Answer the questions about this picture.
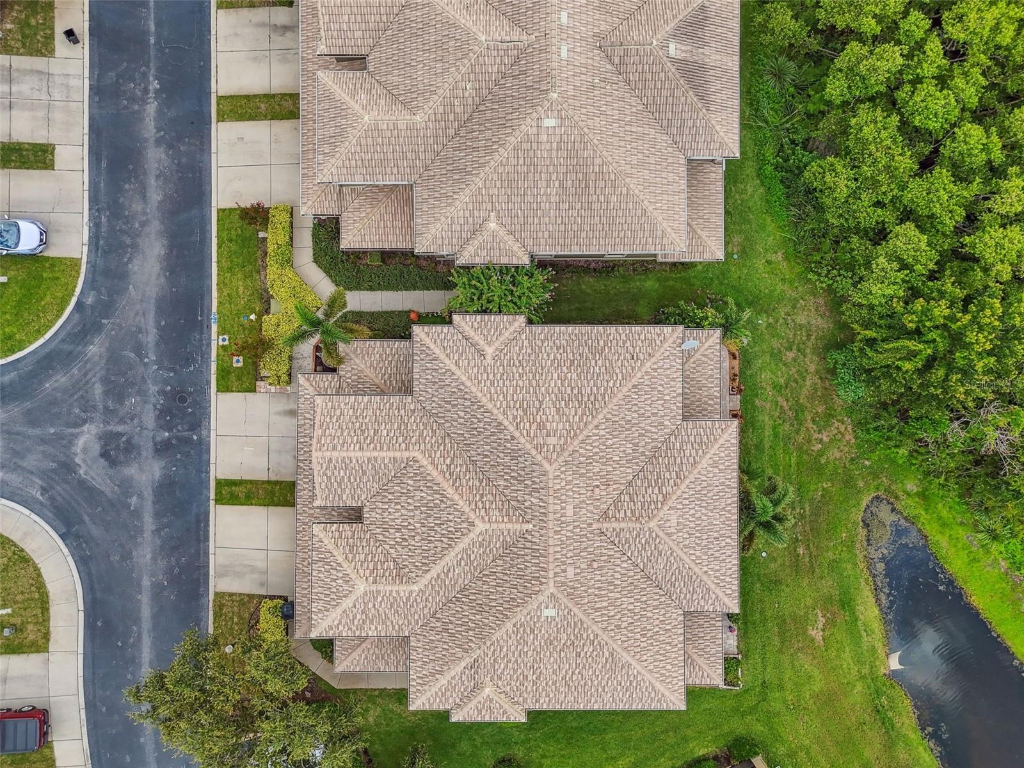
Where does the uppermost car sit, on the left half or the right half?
left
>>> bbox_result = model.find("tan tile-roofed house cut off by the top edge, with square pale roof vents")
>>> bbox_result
[299,0,741,272]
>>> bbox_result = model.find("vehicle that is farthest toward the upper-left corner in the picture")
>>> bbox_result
[0,212,54,258]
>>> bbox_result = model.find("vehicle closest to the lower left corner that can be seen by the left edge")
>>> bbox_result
[0,707,55,757]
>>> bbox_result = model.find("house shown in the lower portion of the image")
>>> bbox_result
[292,312,741,723]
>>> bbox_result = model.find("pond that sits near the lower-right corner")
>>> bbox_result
[863,496,1024,768]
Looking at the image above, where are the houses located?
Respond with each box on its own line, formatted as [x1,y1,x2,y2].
[292,312,741,723]
[299,0,741,272]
